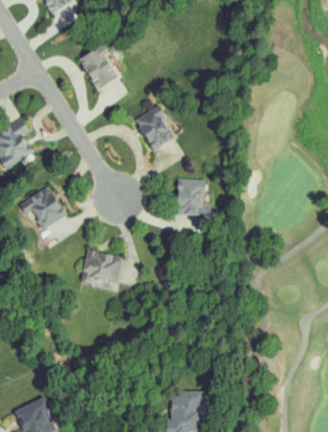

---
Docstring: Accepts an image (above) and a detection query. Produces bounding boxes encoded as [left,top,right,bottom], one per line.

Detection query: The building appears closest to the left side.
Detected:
[0,118,29,170]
